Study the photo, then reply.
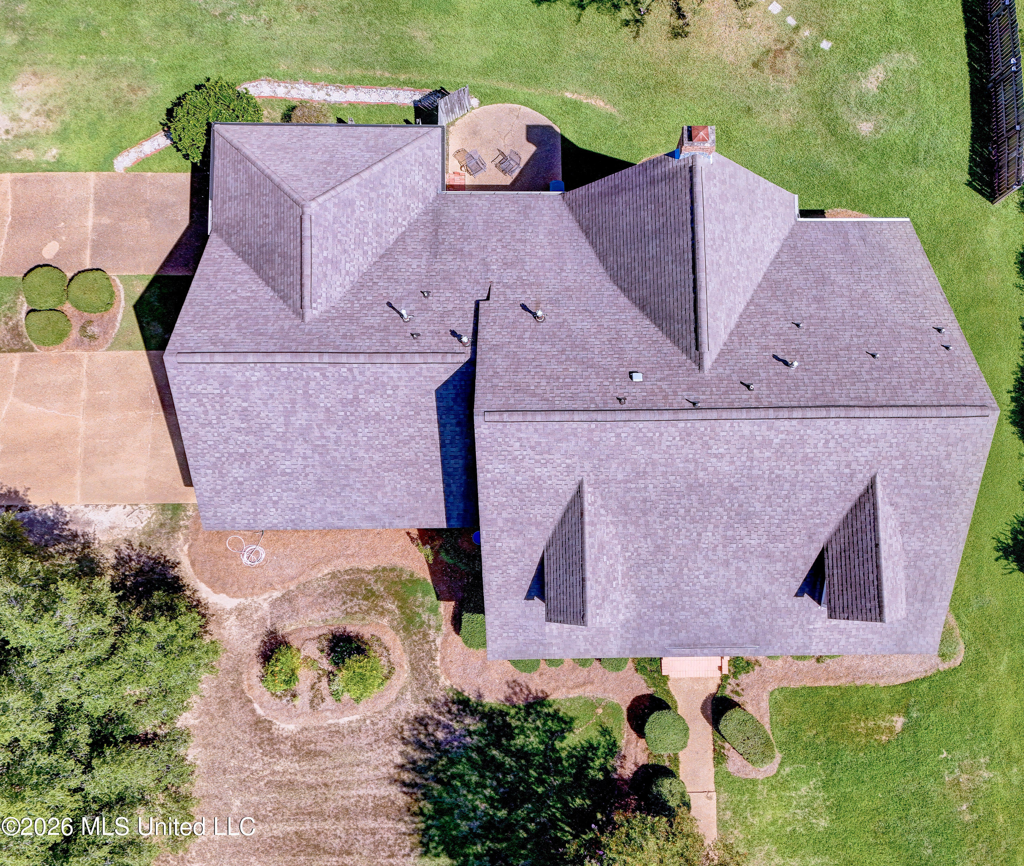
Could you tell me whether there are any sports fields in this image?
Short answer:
No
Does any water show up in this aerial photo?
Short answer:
No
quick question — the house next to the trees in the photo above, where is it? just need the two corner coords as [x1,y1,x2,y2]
[164,120,1000,661]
